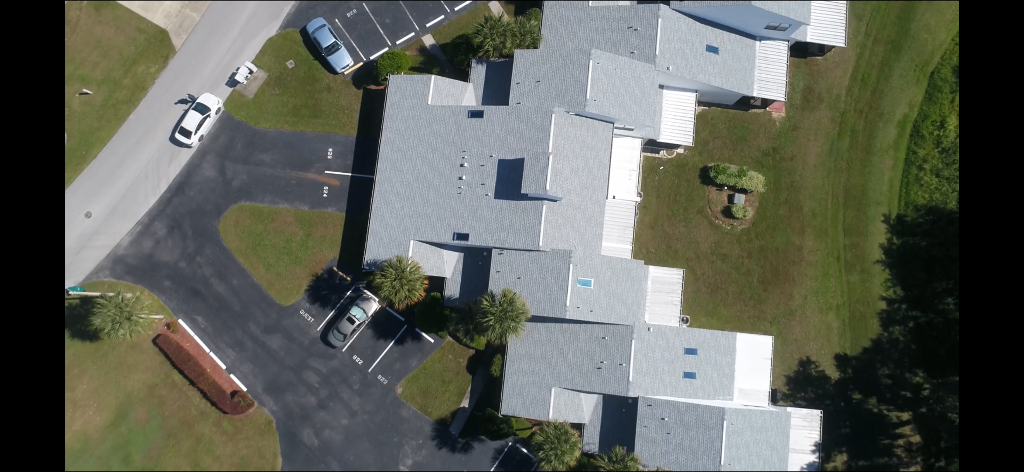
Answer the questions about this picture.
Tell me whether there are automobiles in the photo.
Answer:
Yes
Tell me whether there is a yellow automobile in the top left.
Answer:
No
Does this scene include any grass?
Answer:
Yes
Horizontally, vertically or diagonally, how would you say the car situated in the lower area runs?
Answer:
diagonally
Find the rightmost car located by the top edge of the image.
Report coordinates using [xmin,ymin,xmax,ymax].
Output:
[306,17,354,73]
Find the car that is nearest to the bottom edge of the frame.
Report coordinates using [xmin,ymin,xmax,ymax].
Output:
[325,294,378,349]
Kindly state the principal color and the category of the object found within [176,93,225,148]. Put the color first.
white car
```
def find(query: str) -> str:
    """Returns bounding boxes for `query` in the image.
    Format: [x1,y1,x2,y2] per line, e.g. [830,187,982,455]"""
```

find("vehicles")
[176,93,225,148]
[306,17,354,73]
[325,294,378,349]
